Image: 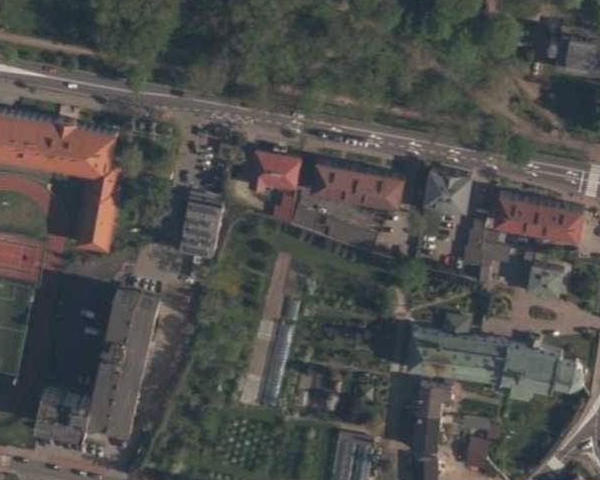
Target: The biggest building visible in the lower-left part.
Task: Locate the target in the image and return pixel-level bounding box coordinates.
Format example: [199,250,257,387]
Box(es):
[86,278,161,446]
